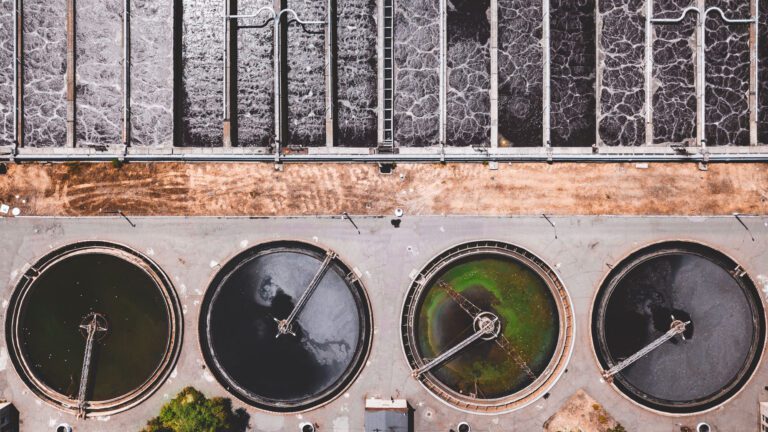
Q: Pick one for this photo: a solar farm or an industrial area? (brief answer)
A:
industrial area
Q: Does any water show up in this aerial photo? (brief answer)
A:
Yes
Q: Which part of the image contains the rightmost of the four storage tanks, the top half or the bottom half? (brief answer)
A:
bottom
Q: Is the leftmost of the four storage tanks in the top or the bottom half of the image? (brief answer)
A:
bottom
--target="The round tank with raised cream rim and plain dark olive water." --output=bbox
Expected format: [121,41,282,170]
[4,240,182,418]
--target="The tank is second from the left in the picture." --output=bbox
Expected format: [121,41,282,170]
[199,240,373,414]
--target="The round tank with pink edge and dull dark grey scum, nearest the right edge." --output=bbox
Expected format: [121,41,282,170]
[592,240,766,414]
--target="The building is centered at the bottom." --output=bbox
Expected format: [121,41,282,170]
[365,399,408,432]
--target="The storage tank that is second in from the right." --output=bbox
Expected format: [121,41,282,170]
[400,240,574,414]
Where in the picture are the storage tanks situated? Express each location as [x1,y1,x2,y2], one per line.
[592,240,766,414]
[199,240,373,414]
[400,240,574,414]
[4,240,182,418]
